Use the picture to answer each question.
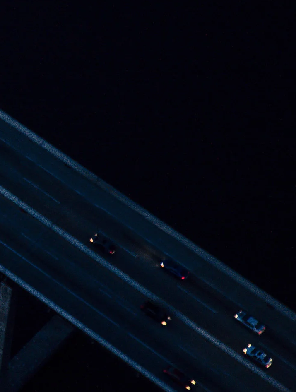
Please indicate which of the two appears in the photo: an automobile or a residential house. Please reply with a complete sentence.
This aerial view contains an automobile.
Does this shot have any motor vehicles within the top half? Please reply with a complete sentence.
No, there is no motor vehicle within the top half.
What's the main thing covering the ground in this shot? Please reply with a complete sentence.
What you mostly see from above here is water.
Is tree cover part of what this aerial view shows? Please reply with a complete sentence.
No, the picture contains no tree cover.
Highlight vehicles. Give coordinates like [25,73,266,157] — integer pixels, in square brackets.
[160,259,190,281]
[139,299,170,324]
[234,310,266,335]
[243,345,274,369]
[163,364,194,389]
